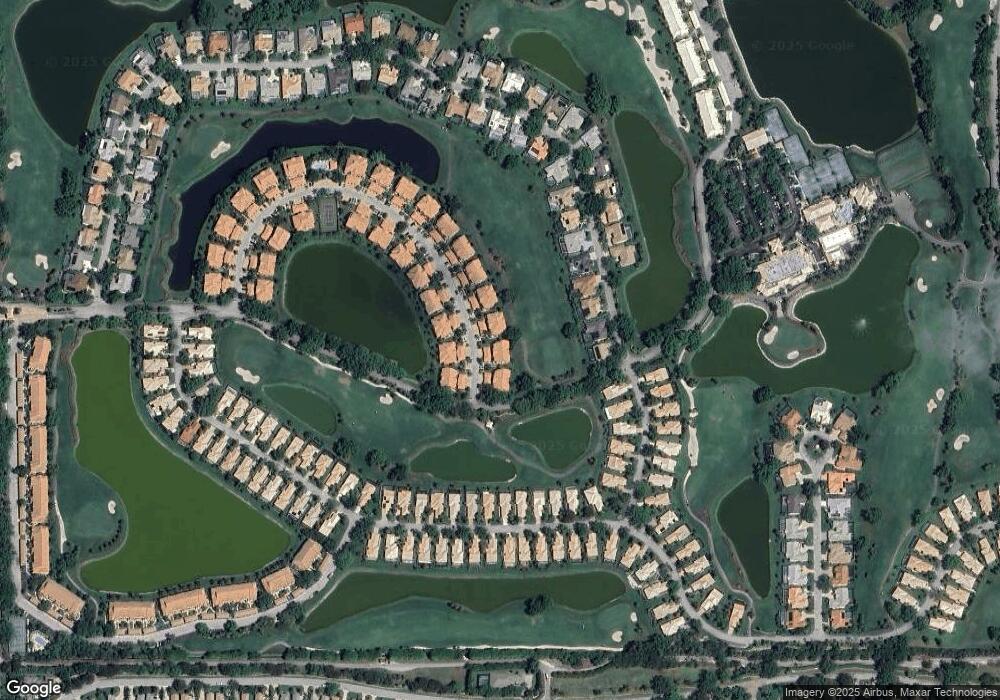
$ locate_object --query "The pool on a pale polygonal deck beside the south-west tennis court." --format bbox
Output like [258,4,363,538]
[30,633,47,651]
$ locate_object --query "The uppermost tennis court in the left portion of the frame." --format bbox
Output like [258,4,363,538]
[318,198,336,233]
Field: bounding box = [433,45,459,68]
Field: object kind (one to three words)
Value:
house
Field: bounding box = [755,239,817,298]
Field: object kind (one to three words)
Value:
building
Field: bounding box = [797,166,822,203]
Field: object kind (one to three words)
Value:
tennis court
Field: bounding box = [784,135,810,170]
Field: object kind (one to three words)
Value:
tennis court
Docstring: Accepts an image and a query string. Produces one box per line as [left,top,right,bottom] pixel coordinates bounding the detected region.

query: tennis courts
[766,108,789,142]
[797,166,822,203]
[318,198,336,233]
[10,616,26,655]
[814,158,839,191]
[784,135,810,170]
[828,151,854,184]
